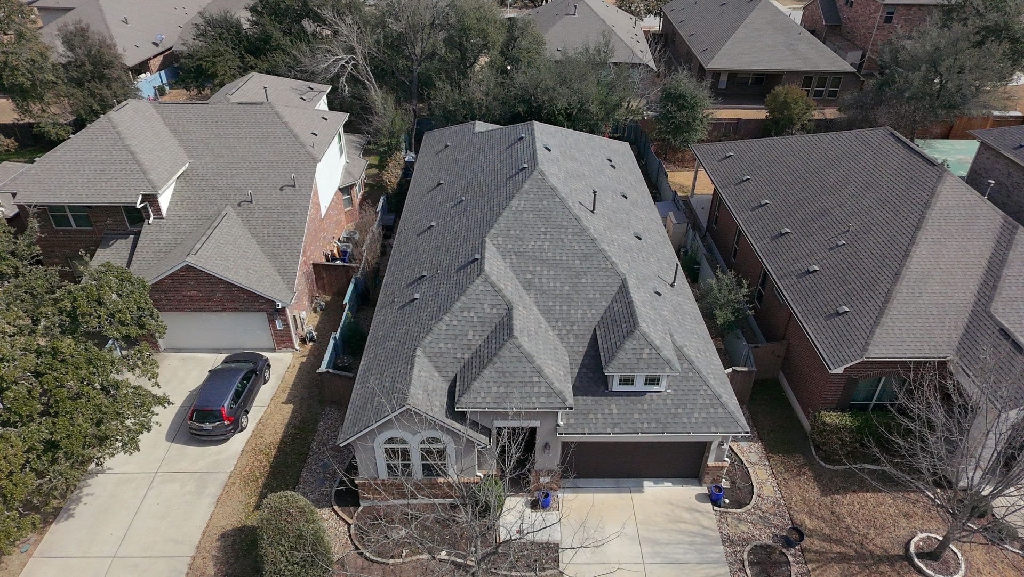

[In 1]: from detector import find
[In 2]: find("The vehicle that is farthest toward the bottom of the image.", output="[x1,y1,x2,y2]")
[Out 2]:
[181,355,268,445]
